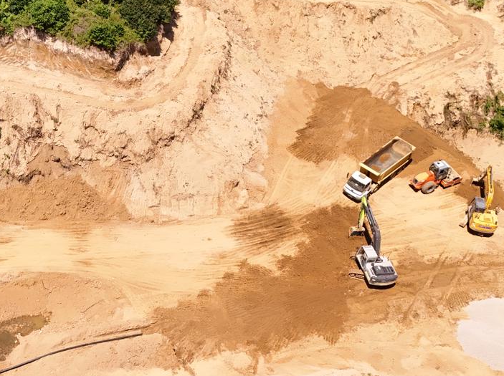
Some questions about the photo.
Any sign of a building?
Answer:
No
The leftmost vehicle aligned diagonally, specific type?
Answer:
truck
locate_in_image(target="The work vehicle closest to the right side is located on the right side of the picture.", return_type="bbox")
[455,166,496,239]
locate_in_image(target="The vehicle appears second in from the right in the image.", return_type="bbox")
[411,162,463,200]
